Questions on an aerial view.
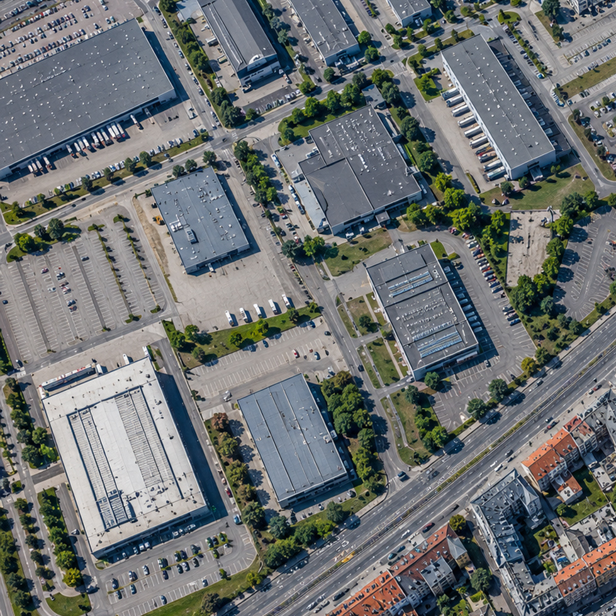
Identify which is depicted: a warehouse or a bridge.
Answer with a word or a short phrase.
warehouse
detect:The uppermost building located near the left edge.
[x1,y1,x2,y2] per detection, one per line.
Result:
[0,18,177,182]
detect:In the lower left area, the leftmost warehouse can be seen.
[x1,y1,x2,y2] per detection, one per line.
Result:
[41,356,210,562]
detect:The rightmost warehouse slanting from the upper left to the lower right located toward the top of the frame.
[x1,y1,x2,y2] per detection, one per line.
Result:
[441,33,555,179]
